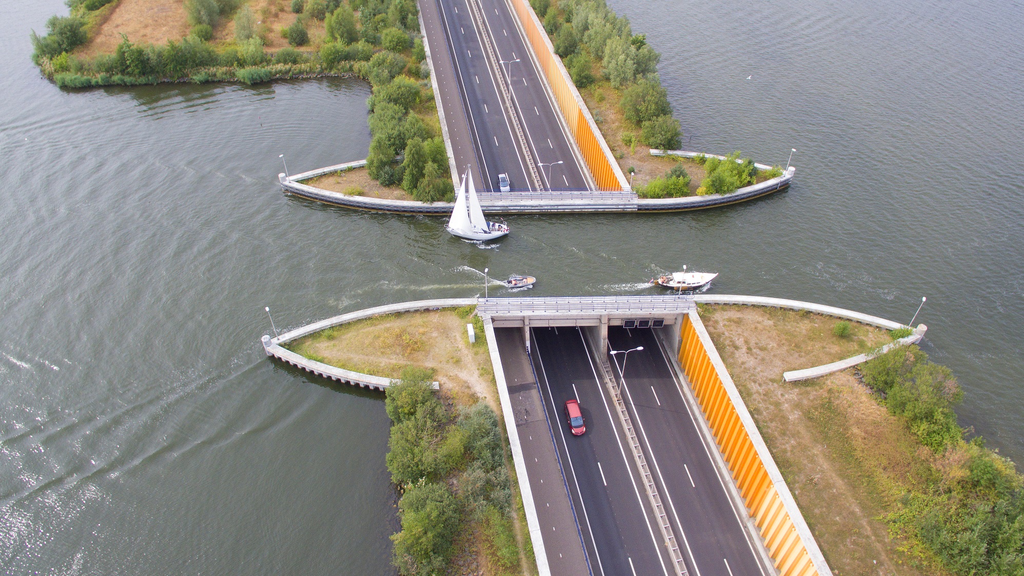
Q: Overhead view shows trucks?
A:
No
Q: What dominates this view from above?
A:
water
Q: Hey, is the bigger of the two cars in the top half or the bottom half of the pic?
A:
bottom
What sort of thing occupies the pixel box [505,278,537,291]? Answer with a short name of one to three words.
boat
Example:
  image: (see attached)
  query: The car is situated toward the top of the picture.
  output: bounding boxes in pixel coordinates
[497,174,512,191]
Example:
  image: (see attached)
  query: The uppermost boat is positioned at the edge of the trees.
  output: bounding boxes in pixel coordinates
[442,161,516,241]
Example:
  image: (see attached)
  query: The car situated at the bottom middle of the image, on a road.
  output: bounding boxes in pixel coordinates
[563,404,587,441]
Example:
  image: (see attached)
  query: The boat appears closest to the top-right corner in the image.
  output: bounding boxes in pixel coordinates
[649,266,718,289]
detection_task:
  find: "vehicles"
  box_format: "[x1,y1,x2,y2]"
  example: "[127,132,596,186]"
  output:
[497,174,512,191]
[563,404,587,441]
